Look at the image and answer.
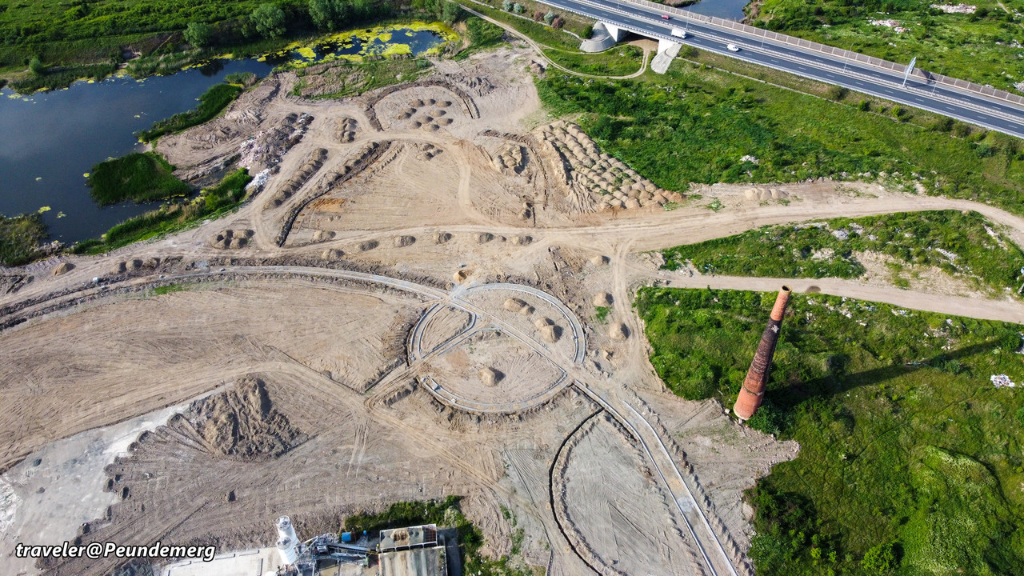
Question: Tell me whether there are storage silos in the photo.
Yes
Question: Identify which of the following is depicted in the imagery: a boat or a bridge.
bridge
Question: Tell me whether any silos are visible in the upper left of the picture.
No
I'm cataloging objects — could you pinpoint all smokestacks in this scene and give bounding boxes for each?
[736,289,794,415]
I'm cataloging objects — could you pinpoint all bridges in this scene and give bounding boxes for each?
[603,21,683,55]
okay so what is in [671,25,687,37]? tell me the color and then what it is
white vehicle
